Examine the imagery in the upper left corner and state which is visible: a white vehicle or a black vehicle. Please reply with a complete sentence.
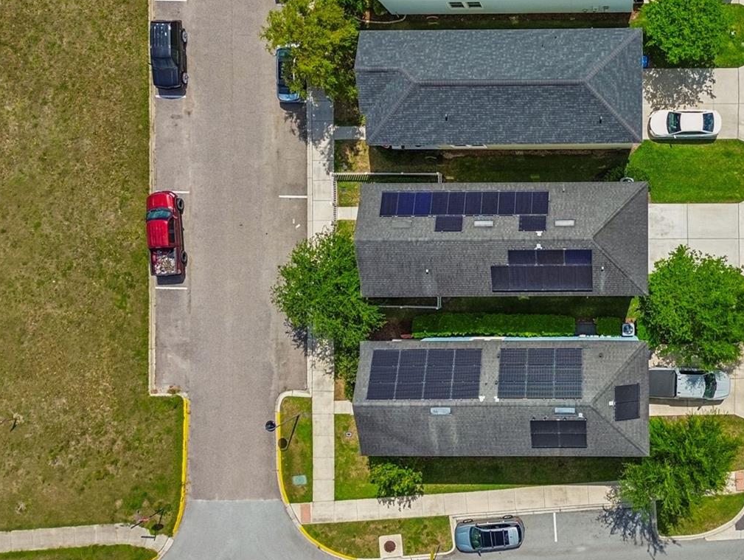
It is a black vehicle that can be seen in the upper left corner.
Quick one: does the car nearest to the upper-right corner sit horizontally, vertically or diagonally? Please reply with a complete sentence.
In this picture, the car nearest to the upper-right corner is oriented horizontally.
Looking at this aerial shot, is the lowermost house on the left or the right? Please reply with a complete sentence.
The lowermost house sits on the right side.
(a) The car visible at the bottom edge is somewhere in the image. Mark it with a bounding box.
[455,517,525,558]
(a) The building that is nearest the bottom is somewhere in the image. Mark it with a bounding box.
[352,335,650,457]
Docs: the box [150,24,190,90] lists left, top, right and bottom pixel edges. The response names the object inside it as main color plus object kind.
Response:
black car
